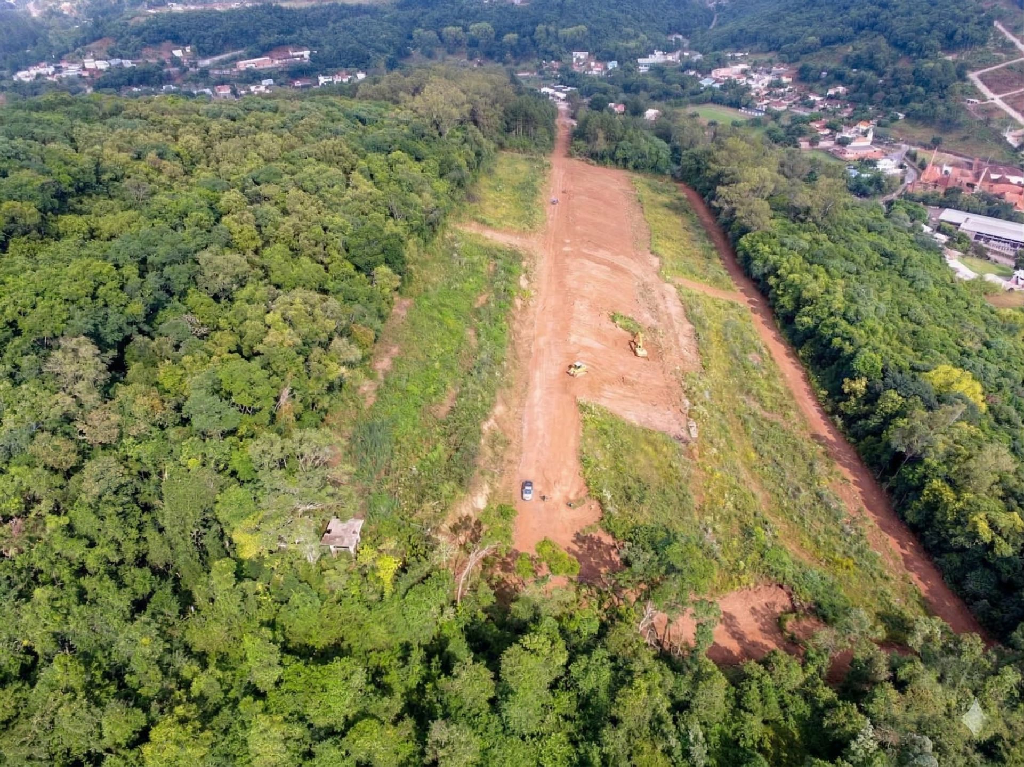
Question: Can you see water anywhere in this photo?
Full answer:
No, there's no water in this view.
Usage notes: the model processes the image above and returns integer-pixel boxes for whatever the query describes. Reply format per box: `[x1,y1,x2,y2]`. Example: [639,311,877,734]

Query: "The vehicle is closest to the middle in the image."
[563,360,588,380]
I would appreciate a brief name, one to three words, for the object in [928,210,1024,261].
building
